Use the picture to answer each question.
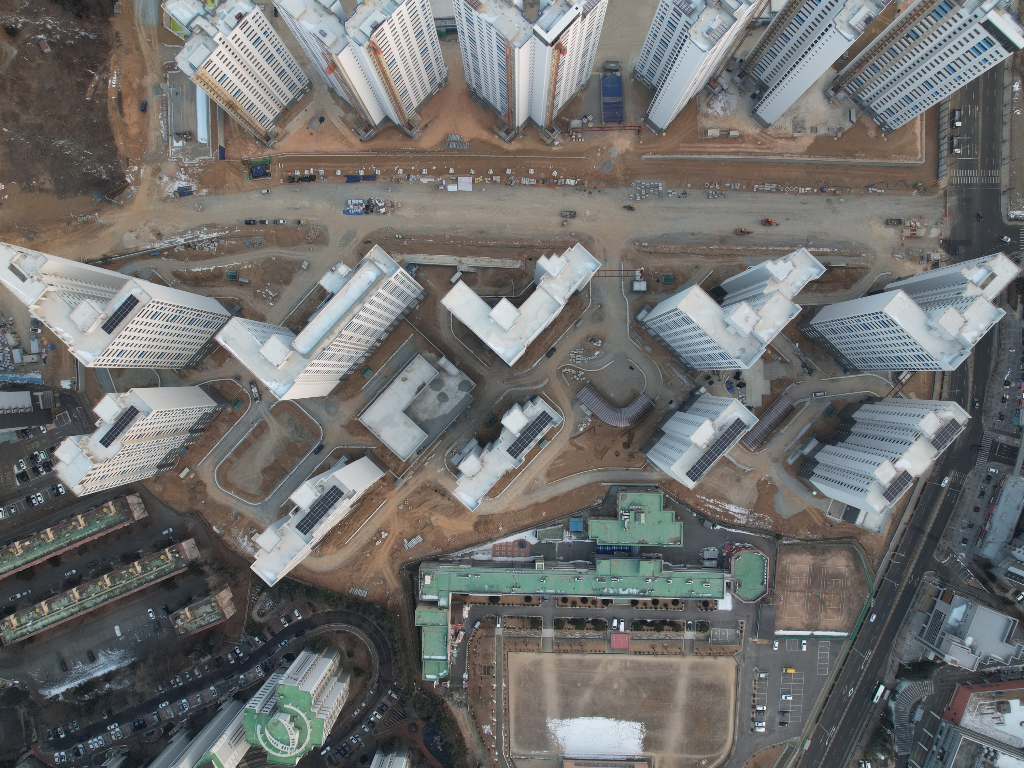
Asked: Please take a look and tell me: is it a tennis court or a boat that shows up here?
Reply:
tennis court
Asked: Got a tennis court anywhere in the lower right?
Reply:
Yes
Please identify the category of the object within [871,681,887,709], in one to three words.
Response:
vehicle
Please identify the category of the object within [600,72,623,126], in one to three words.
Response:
shed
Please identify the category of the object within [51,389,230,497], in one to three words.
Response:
building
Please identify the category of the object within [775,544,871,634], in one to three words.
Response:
tennis court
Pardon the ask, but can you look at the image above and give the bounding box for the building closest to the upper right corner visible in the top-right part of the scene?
[836,0,1024,132]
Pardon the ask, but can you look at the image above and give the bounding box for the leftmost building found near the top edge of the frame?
[161,0,318,150]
